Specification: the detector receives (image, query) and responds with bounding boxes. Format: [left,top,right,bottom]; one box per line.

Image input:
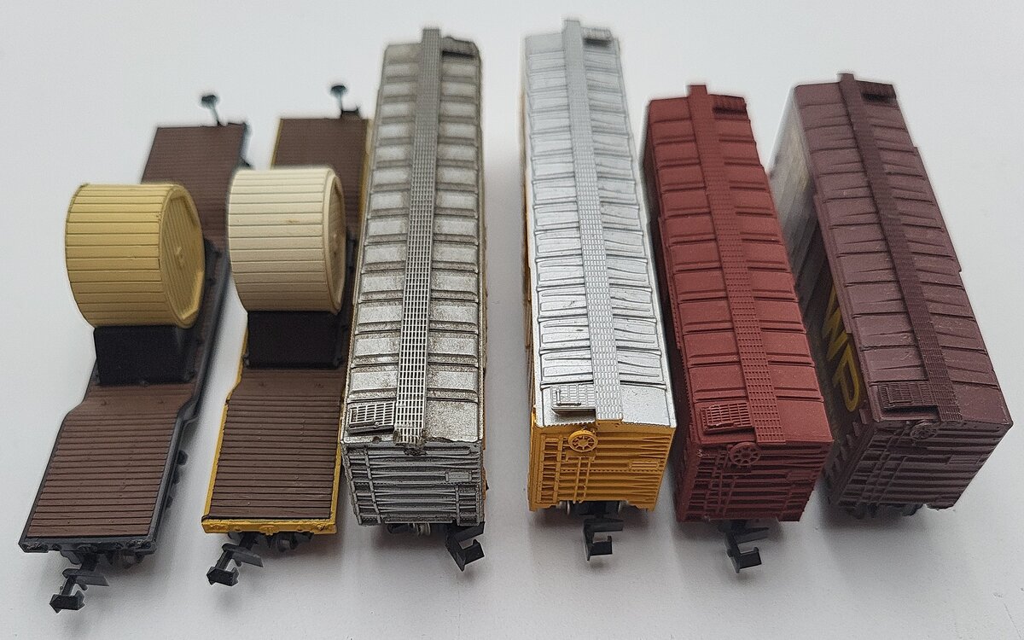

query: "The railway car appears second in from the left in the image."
[520,24,675,559]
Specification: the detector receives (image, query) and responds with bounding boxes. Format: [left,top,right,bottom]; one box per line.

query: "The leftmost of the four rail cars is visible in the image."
[342,32,488,566]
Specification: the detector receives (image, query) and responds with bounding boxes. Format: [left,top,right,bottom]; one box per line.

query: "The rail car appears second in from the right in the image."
[640,86,833,572]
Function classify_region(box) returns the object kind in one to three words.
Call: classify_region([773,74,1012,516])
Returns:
rail car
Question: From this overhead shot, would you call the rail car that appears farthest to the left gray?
Yes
